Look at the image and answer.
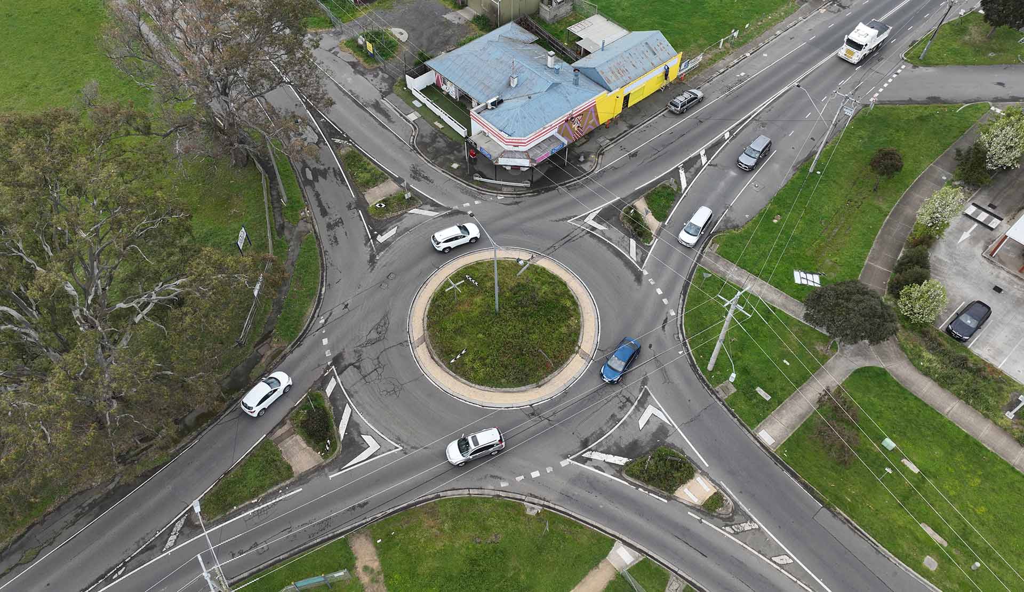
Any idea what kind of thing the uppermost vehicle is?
truck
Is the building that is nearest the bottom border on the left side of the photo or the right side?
right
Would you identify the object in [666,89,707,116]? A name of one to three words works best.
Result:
car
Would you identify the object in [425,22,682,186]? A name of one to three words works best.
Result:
building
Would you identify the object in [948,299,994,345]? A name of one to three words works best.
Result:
car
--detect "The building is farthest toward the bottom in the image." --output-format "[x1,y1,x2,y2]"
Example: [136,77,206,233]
[981,216,1024,279]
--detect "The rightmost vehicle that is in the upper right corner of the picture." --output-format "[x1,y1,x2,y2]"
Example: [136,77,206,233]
[838,17,899,66]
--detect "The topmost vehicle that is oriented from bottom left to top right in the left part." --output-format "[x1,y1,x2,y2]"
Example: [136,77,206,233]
[238,372,296,420]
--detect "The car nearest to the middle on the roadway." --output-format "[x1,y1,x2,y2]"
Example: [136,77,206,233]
[430,222,481,252]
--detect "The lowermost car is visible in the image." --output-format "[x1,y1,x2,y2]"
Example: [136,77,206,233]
[444,424,507,467]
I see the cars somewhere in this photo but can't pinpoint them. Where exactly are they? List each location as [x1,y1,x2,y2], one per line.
[444,424,507,467]
[238,372,296,420]
[430,222,481,252]
[948,299,994,345]
[600,334,644,385]
[679,205,715,248]
[737,134,773,172]
[666,89,707,116]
